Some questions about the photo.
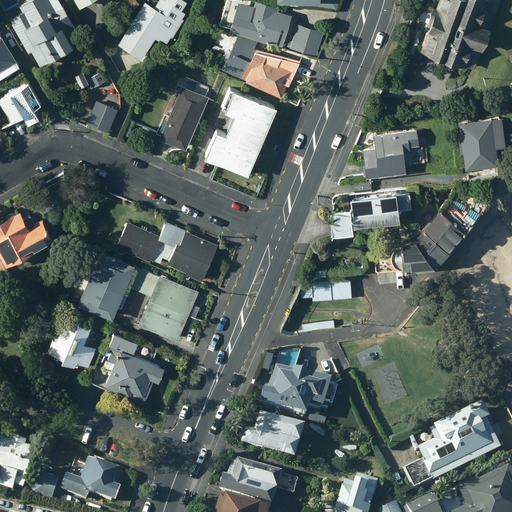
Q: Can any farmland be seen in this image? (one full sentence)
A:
No, there's no farmland in this view.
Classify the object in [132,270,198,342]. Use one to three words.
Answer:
building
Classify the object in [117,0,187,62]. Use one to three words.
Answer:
house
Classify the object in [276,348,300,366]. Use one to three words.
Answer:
swimming pool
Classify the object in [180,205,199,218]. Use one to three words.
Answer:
vehicle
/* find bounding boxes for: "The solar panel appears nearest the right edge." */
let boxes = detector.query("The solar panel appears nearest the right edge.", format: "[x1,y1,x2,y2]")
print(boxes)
[381,198,397,213]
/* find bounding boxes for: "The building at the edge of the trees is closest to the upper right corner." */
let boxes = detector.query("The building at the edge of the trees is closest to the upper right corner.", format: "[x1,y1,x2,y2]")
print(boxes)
[421,0,500,72]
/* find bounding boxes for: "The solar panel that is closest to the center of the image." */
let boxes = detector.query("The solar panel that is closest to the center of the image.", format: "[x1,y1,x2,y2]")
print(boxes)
[352,201,373,216]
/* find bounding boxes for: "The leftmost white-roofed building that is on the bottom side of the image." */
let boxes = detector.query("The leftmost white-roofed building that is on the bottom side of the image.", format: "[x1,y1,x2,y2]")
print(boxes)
[0,431,30,488]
